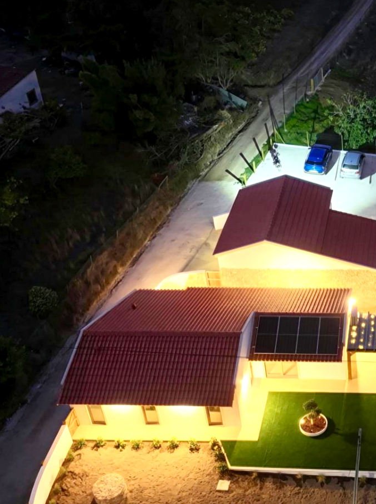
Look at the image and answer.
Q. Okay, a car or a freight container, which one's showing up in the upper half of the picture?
car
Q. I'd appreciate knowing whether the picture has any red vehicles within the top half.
No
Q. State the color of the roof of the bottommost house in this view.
red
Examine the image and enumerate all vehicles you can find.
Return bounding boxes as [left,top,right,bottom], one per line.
[339,150,366,178]
[302,143,334,174]
[268,144,279,168]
